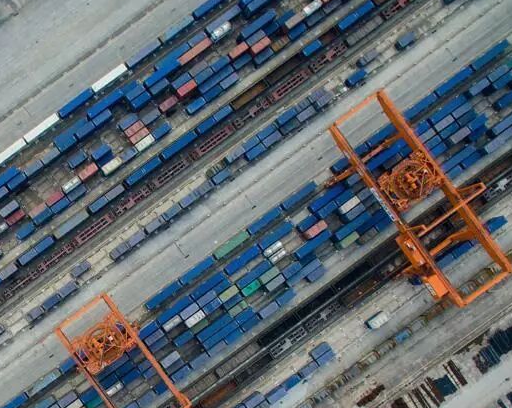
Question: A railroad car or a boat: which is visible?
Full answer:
I can see a railroad car in this picture.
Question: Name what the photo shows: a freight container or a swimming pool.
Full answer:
It is a freight container that can be seen here.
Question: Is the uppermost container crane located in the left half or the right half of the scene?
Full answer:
The uppermost container crane appears in the right half of the scene.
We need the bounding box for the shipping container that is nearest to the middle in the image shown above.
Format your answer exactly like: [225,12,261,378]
[244,205,284,236]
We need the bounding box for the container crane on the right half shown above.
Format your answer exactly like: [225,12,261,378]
[326,91,512,307]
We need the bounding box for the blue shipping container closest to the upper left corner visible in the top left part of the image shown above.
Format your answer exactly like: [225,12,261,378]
[58,88,94,119]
